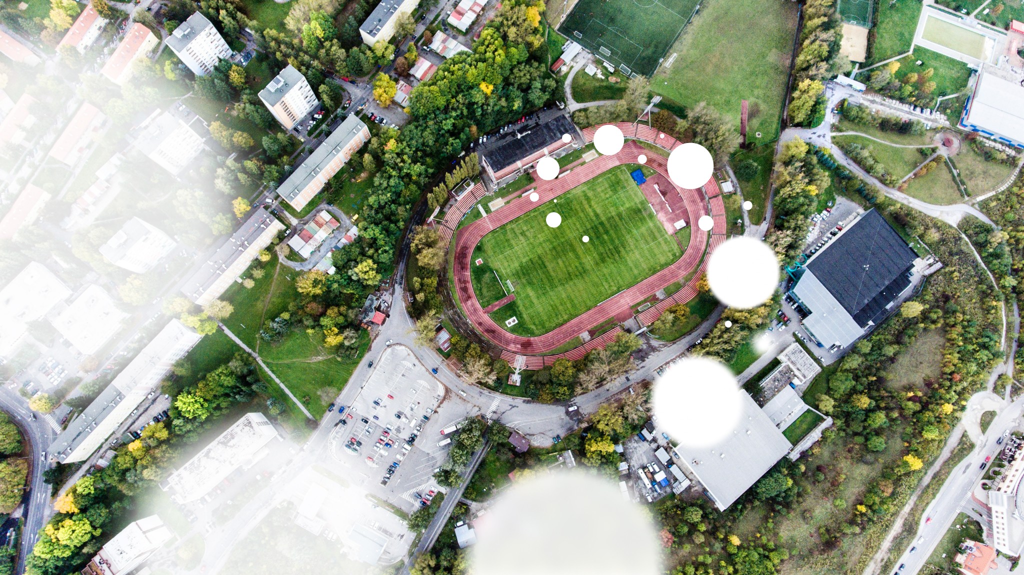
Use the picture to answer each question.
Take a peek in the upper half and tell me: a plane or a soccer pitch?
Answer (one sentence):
Looking in the upper half, you will find a soccer pitch.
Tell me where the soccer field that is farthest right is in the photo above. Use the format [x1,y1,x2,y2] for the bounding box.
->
[838,0,872,28]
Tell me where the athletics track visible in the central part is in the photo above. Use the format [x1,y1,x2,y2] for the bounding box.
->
[447,139,711,358]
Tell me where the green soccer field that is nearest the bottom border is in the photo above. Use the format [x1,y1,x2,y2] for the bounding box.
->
[471,163,691,337]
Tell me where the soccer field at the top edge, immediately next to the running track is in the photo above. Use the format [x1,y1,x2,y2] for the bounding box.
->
[557,0,703,79]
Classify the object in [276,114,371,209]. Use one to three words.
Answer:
building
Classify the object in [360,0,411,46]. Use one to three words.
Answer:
building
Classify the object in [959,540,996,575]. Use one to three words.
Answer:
house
